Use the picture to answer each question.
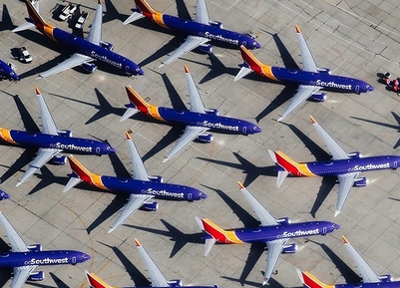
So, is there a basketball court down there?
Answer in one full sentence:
No, the photo shows no basketball court.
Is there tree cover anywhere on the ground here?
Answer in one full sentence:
No, no tree cover is visible.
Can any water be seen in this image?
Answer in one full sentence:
No, the scene doesn't show any water.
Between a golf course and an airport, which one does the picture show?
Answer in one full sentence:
The picture captures an airport.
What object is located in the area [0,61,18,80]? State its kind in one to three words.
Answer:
airplane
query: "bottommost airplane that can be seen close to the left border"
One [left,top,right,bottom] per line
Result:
[0,210,90,288]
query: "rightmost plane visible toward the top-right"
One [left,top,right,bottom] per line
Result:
[233,25,374,121]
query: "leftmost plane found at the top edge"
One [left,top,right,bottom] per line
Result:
[11,0,144,80]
